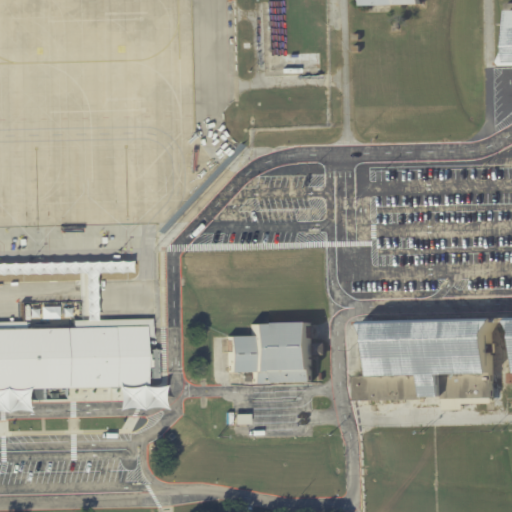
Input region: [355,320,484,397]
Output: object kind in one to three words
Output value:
building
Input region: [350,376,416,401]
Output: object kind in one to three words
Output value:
building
